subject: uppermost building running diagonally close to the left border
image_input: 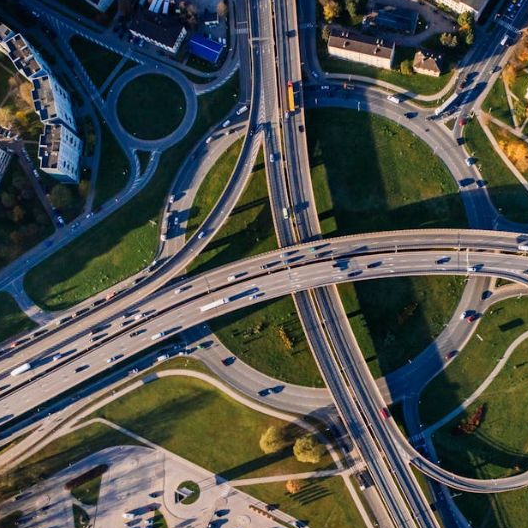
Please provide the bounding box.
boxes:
[5,33,63,84]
